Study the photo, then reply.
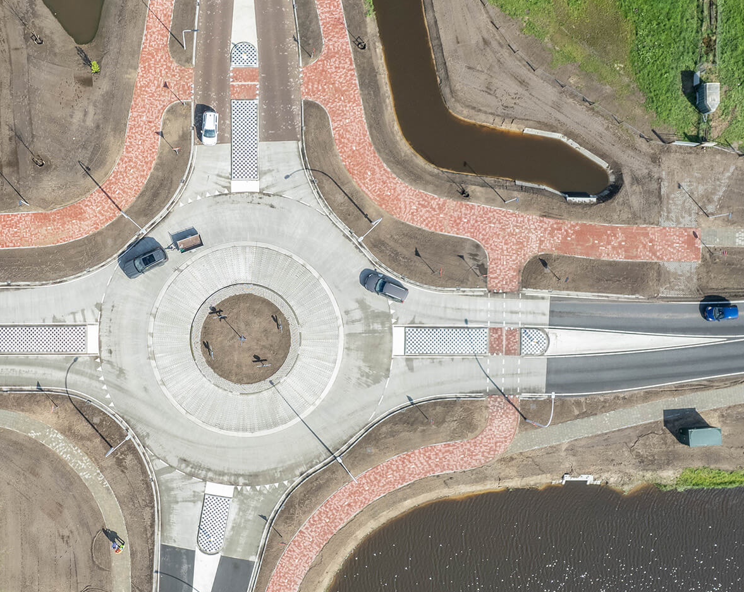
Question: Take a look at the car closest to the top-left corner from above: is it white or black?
white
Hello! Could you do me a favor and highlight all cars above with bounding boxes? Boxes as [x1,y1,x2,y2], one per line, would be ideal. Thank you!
[367,274,412,304]
[124,249,172,281]
[199,108,220,146]
[704,303,742,322]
